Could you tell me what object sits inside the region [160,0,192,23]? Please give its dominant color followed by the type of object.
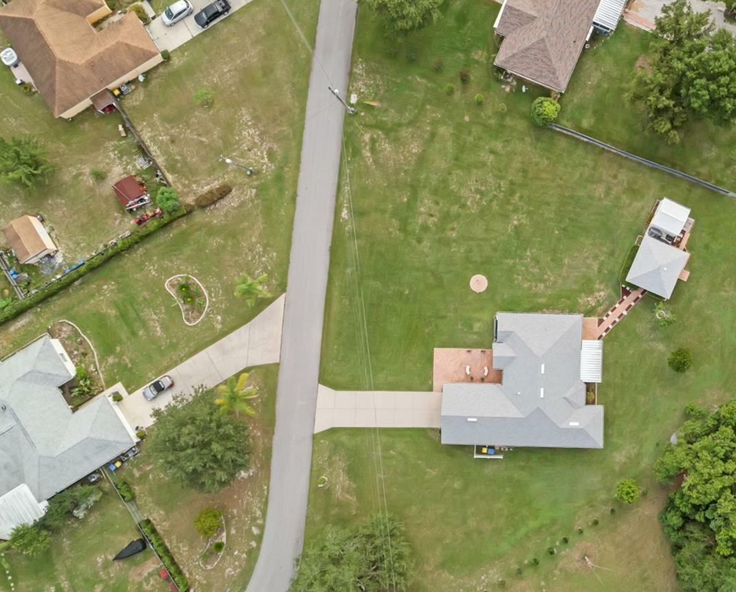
white car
